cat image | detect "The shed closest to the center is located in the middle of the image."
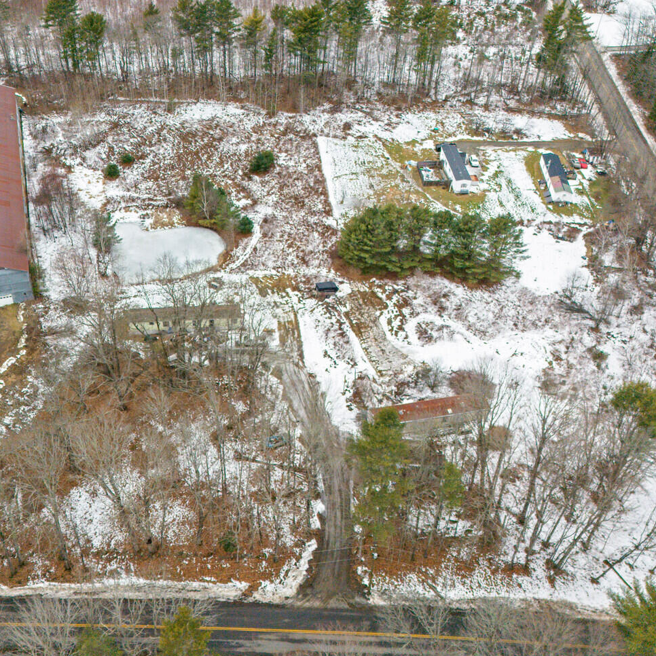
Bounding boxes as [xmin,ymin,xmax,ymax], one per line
[316,281,338,299]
